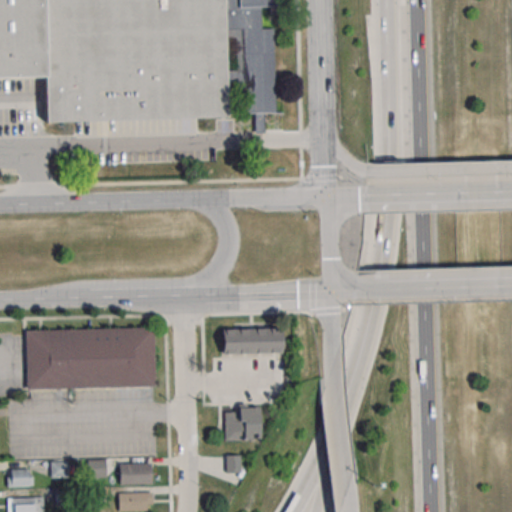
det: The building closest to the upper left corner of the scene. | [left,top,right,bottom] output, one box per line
[0,0,228,122]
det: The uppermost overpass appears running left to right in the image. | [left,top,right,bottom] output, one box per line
[363,160,512,213]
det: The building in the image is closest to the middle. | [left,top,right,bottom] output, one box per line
[224,328,284,354]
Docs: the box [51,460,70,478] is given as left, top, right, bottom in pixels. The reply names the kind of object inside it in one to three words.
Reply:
shed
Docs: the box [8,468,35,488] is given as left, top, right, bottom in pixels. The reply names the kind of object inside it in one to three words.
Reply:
house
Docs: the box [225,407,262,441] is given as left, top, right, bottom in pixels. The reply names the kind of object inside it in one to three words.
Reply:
house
